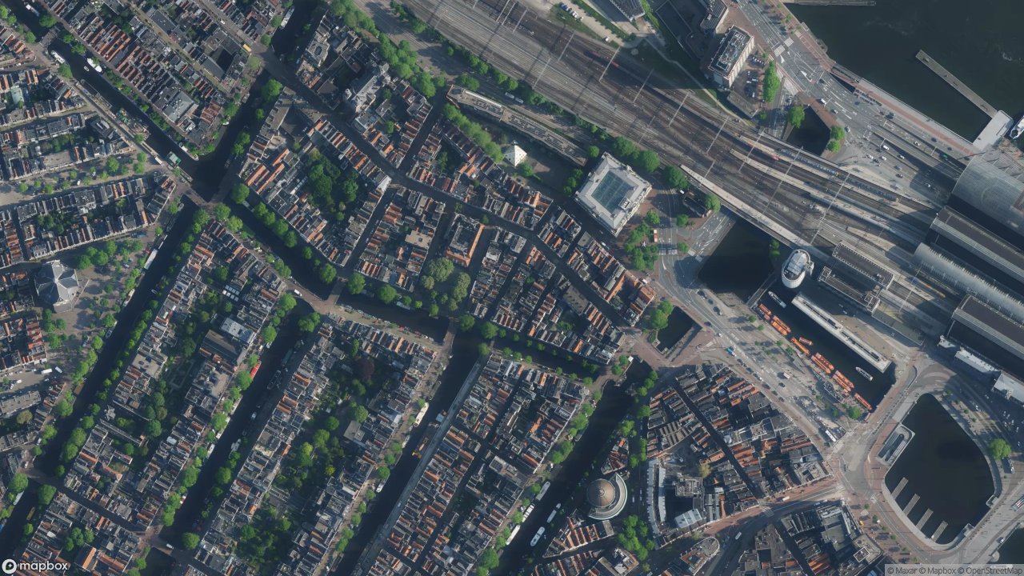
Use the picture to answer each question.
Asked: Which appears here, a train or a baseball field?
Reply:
train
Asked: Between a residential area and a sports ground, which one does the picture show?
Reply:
residential area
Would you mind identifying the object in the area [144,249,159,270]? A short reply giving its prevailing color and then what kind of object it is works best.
white boat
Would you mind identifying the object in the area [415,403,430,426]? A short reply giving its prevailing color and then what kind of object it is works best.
white boat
